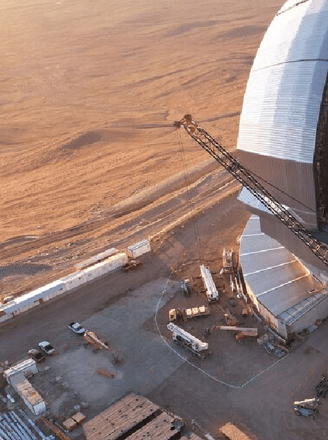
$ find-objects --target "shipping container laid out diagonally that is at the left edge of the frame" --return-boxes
[5,364,51,414]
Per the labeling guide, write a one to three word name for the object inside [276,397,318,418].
work vehicle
